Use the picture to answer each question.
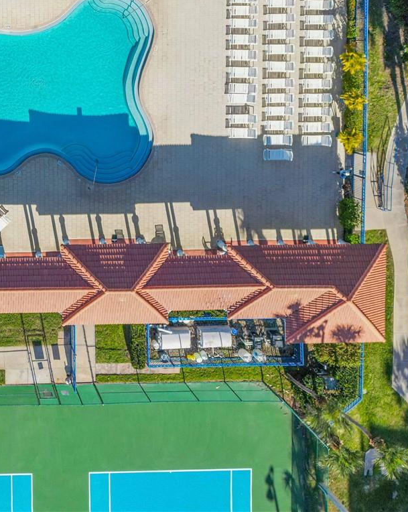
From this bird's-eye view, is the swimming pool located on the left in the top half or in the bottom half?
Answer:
top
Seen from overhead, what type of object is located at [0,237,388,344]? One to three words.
building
